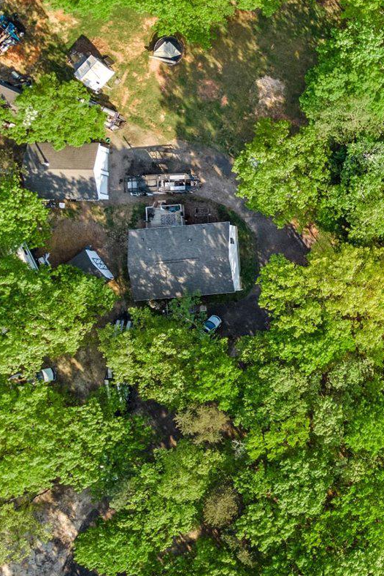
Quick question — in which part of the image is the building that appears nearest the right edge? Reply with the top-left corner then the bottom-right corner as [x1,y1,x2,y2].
[126,201,243,301]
